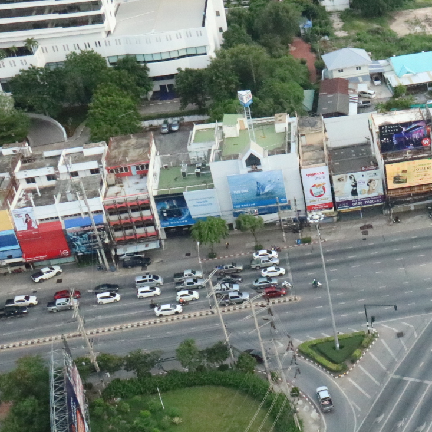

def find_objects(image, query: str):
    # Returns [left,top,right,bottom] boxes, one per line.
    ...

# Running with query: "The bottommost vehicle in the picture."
[316,387,334,415]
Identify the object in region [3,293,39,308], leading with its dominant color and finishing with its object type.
white vehicle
